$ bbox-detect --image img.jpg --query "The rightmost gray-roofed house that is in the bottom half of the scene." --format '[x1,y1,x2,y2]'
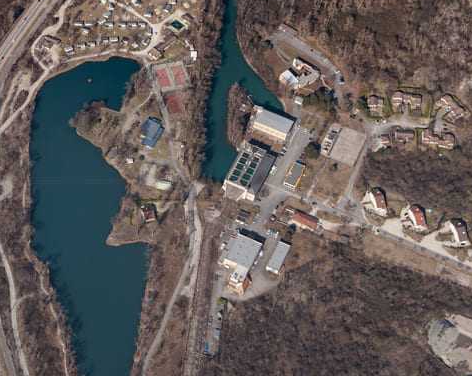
[449,220,470,248]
